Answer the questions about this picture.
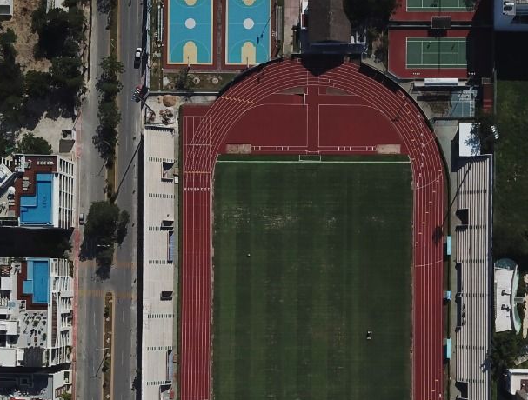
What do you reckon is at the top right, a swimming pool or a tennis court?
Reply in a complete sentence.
The one visible at the top right is a tennis court.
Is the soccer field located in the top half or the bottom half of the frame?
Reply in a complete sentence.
You can find the soccer field in the bottom half.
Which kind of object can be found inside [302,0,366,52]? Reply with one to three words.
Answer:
building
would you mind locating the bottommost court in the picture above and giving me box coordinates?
[451,89,476,117]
